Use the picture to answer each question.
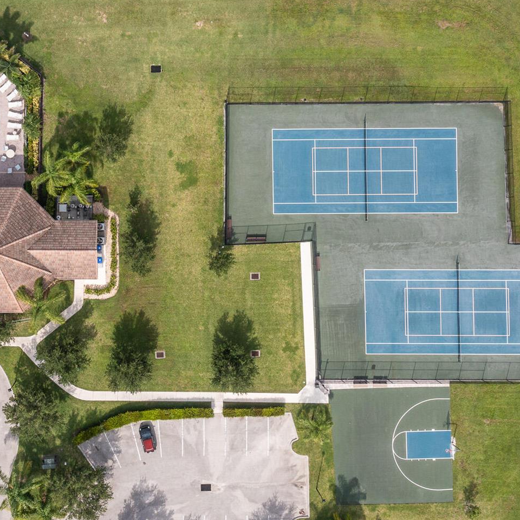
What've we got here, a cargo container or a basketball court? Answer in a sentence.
There is a basketball court in the scene.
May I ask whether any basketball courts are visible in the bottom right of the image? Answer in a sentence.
Yes, a basketball court can be seen in the bottom right of the image.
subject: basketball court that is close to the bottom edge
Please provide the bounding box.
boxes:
[330,386,453,505]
